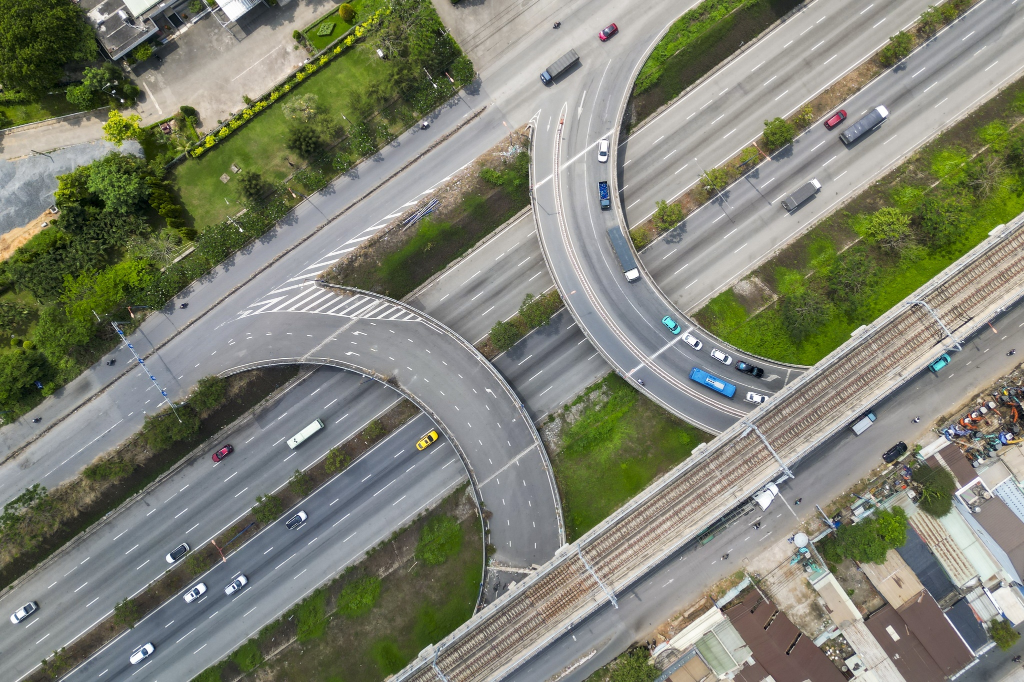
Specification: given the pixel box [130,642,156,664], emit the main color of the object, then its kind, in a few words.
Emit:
white car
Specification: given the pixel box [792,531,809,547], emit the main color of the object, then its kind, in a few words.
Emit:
white umbrella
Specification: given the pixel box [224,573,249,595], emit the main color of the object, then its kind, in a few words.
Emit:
white car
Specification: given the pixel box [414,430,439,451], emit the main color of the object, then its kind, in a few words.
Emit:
yellow car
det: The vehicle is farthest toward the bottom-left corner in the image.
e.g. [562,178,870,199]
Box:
[11,601,39,622]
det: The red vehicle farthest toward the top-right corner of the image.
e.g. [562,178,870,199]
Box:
[822,109,847,129]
